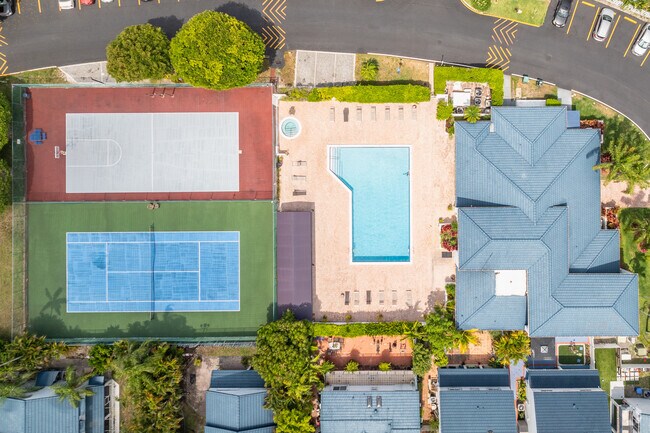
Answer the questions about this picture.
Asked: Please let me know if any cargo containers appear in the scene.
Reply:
No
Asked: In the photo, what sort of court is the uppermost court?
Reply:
basketball court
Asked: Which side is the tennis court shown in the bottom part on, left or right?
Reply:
left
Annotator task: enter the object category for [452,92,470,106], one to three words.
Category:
umbrella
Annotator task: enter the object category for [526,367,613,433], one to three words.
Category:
house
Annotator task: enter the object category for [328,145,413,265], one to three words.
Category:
swimming pool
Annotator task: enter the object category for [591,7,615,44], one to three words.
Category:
car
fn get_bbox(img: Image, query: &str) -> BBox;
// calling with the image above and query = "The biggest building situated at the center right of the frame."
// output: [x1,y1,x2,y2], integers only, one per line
[453,107,639,337]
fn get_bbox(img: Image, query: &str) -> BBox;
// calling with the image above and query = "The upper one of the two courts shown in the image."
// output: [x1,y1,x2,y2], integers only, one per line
[24,86,272,201]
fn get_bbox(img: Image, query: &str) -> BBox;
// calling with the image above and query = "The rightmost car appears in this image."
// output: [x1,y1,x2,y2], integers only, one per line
[630,20,650,57]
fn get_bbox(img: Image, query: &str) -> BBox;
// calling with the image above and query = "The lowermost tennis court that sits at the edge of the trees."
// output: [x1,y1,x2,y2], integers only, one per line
[24,202,272,338]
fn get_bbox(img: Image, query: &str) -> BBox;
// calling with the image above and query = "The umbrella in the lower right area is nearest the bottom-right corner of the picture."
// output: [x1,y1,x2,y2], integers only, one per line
[630,343,648,357]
